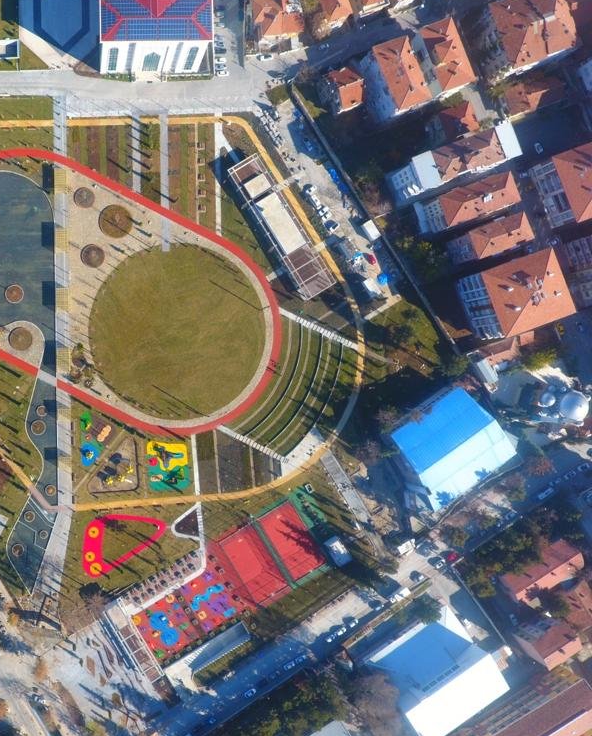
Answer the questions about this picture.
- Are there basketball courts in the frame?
Yes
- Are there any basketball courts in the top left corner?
No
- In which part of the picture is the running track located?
left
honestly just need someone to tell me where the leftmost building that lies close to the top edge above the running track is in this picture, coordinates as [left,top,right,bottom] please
[99,0,213,81]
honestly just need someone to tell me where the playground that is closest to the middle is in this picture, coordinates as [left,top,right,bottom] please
[146,441,190,492]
